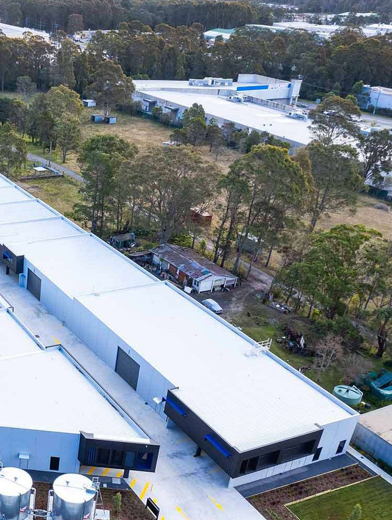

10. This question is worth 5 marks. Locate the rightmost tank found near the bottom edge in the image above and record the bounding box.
[49,473,112,520]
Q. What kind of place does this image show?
industrial area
